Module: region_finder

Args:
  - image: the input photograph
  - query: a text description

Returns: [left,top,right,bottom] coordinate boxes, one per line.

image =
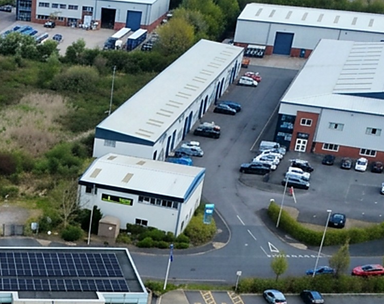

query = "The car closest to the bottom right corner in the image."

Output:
[349,264,384,278]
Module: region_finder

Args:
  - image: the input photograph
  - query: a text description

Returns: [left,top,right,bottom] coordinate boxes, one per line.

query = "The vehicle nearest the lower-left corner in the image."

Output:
[171,154,195,166]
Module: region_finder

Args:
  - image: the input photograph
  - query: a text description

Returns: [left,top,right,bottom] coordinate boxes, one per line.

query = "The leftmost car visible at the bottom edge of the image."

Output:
[264,291,286,304]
